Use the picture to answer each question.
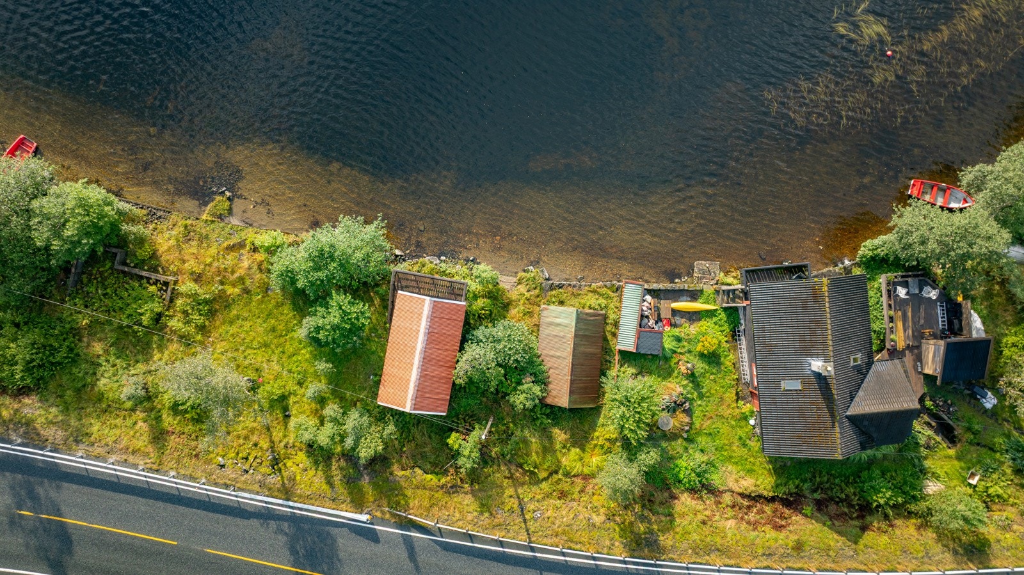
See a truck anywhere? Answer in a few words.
No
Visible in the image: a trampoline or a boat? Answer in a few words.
boat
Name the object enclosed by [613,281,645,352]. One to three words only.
shed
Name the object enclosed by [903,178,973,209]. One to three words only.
boat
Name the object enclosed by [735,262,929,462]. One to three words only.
house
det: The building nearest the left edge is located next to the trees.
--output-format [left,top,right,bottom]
[376,268,468,417]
